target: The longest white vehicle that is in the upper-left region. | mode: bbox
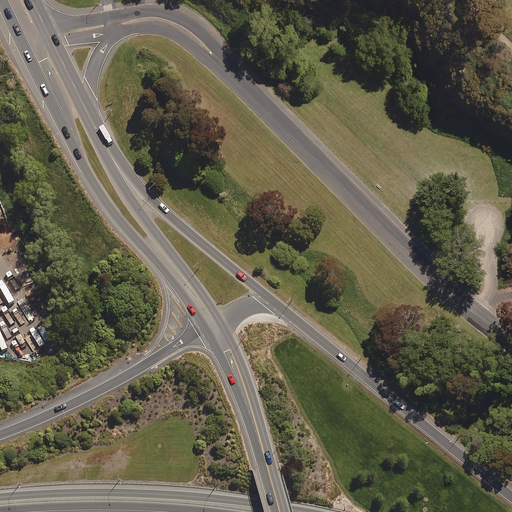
[98,124,114,148]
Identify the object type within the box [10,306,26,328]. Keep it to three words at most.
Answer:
vehicle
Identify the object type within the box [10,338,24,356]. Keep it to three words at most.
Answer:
vehicle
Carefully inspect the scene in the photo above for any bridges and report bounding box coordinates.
[252,469,294,512]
